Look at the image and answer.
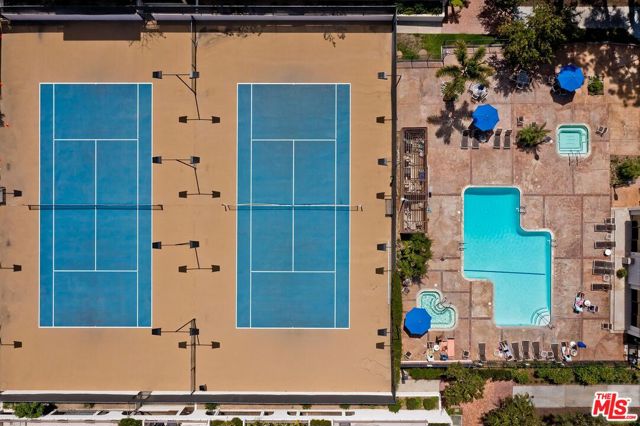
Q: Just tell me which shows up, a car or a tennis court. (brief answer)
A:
tennis court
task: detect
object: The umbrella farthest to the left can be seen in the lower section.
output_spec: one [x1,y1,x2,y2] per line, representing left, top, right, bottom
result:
[404,307,430,333]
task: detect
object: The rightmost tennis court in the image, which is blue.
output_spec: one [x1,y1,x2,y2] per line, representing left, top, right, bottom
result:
[237,82,350,327]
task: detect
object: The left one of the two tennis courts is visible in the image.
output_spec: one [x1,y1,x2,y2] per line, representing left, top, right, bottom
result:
[39,82,152,327]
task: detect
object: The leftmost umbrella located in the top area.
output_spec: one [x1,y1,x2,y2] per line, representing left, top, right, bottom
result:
[470,104,498,133]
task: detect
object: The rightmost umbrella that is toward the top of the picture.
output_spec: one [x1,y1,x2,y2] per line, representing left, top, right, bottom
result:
[555,66,583,93]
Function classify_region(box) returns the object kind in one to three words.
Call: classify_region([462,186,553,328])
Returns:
swimming pool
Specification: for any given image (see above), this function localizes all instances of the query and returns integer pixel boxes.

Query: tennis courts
[39,82,152,327]
[237,82,350,327]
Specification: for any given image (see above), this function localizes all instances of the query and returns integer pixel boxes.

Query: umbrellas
[404,307,430,333]
[555,66,583,93]
[470,104,498,133]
